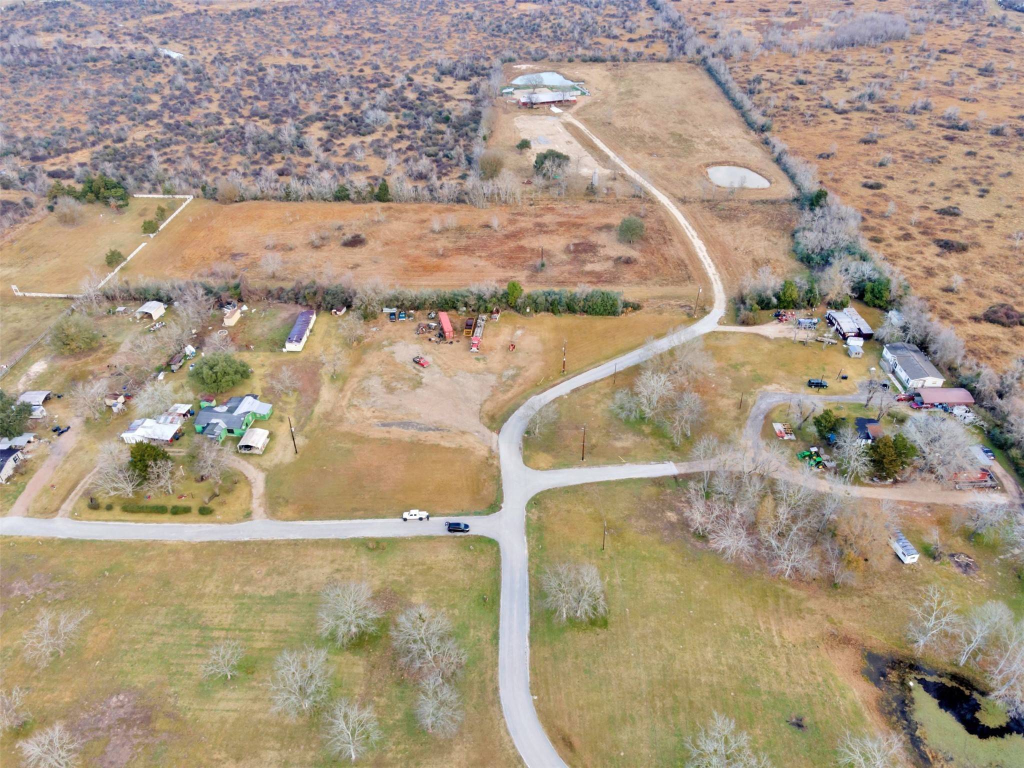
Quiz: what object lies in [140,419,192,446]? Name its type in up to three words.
house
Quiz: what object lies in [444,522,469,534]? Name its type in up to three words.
vehicle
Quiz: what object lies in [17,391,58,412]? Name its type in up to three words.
barn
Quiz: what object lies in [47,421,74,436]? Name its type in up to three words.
vehicle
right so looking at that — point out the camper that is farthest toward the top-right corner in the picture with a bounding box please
[886,312,902,332]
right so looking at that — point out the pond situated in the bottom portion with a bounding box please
[915,677,1024,742]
